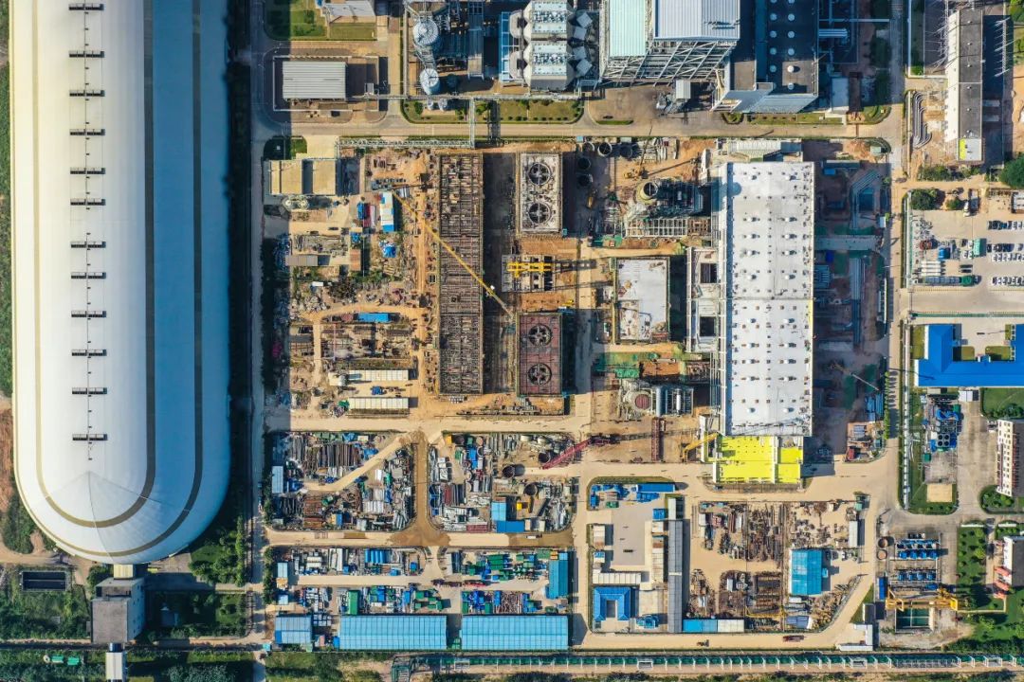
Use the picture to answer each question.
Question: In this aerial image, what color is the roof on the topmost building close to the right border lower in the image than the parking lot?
blue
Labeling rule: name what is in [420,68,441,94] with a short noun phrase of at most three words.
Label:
silo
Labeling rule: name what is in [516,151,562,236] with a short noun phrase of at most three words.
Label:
cooling tower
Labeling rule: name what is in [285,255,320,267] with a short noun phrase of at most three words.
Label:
shed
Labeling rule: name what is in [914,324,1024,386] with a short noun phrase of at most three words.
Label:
building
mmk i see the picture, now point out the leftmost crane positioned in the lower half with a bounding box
[540,431,621,469]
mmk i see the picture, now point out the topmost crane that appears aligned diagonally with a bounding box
[371,176,514,317]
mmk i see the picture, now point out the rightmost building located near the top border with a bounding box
[947,9,983,144]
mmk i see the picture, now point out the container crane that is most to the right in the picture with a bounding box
[880,593,958,612]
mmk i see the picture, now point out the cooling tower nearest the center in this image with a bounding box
[515,309,563,398]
